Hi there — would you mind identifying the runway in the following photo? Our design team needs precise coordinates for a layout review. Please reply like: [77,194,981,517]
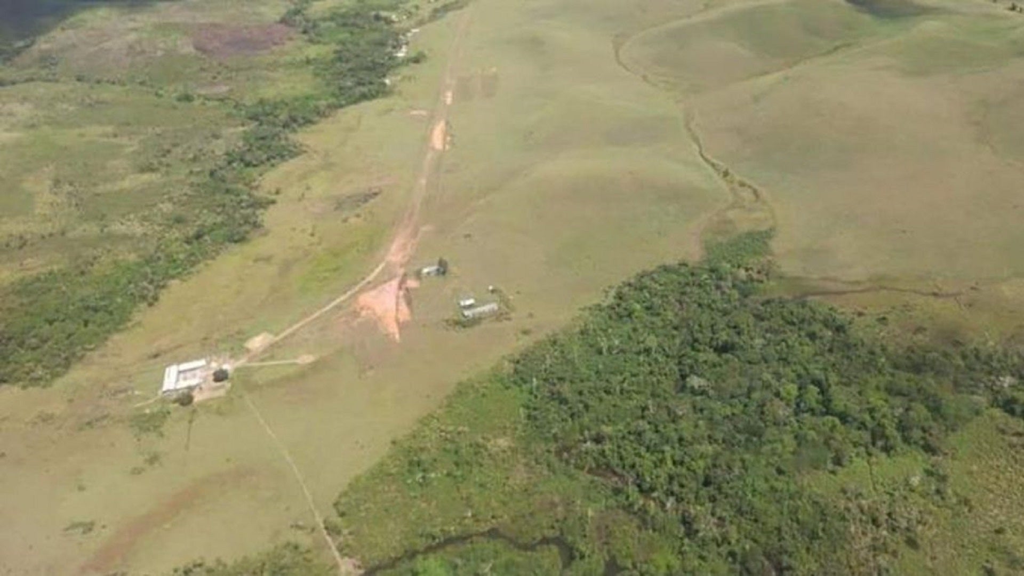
[394,0,473,277]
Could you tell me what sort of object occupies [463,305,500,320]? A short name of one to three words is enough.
shed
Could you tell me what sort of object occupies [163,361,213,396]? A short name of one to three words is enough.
building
